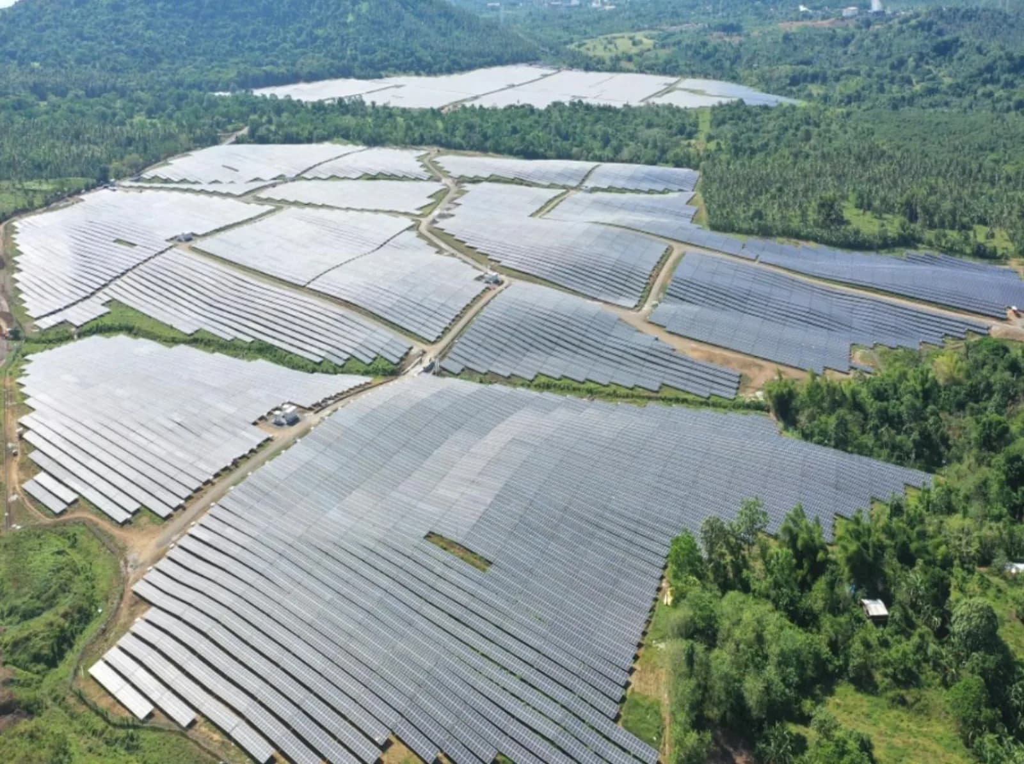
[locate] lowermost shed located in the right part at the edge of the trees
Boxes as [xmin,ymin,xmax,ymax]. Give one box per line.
[864,603,892,624]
